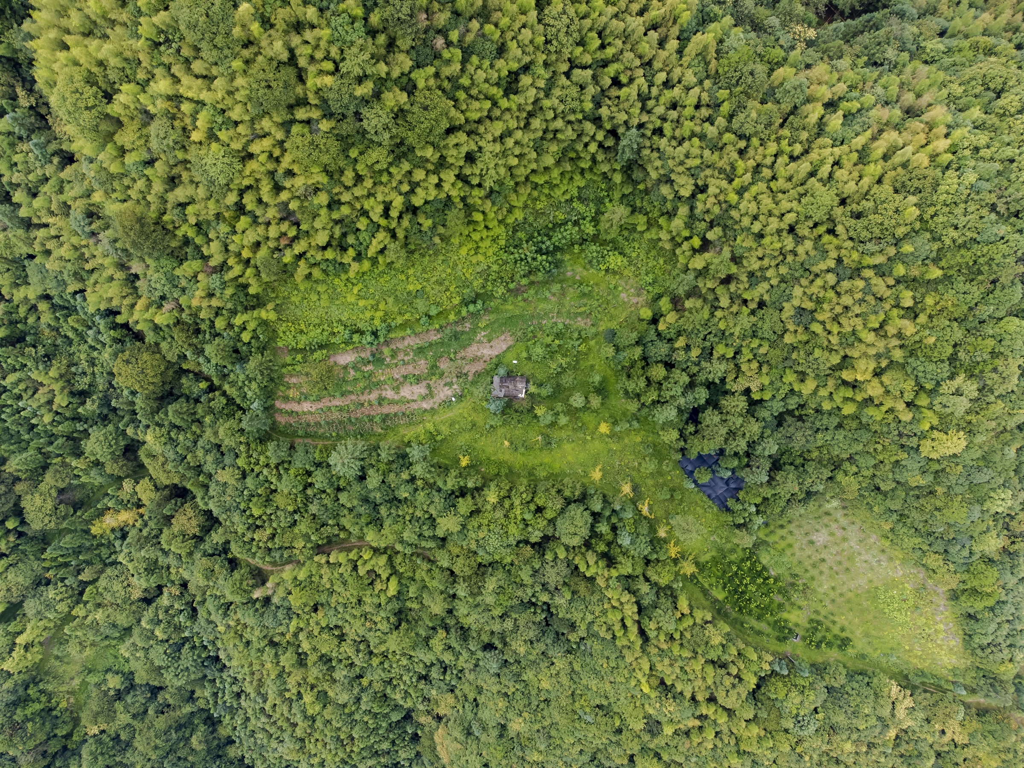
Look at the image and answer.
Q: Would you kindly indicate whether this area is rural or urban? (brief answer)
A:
rural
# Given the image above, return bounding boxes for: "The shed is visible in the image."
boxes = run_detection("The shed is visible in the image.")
[491,376,526,398]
